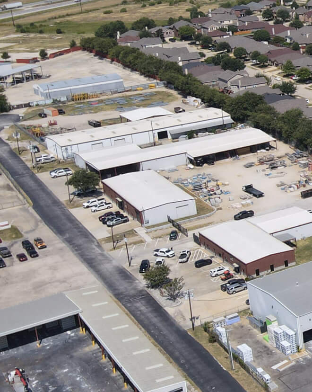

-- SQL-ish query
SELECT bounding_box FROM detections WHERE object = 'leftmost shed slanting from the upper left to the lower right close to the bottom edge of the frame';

[67,281,184,392]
